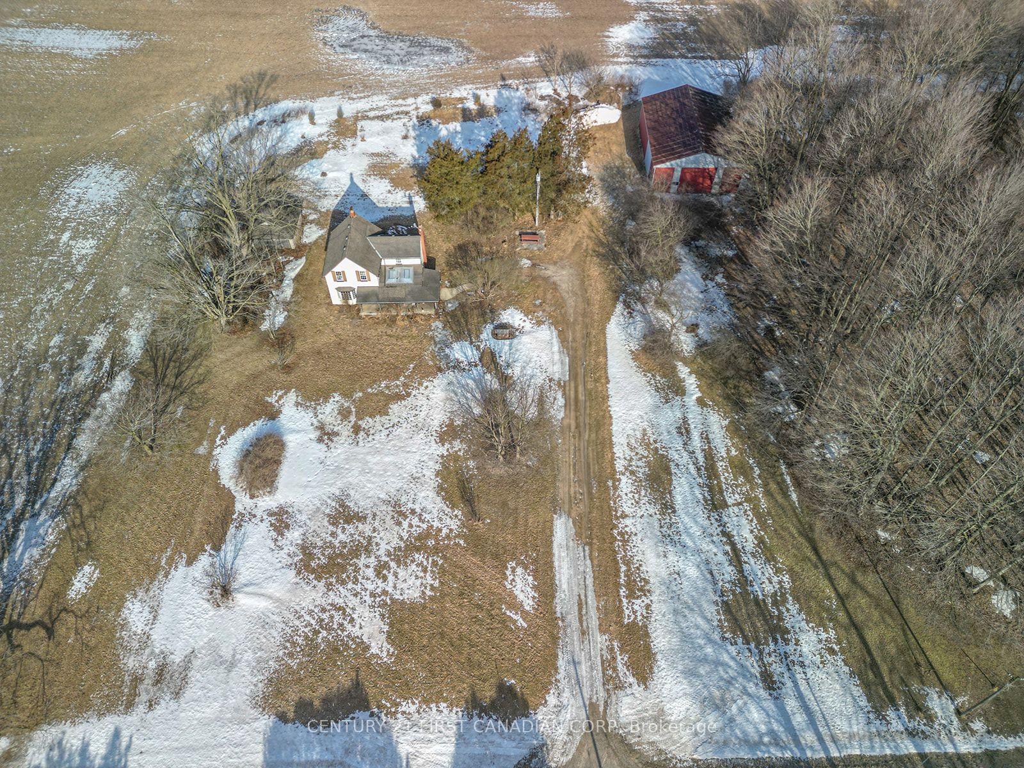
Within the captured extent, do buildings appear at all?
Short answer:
Yes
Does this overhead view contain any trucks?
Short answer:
No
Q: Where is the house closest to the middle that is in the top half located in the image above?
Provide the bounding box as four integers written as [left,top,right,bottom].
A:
[322,206,442,319]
